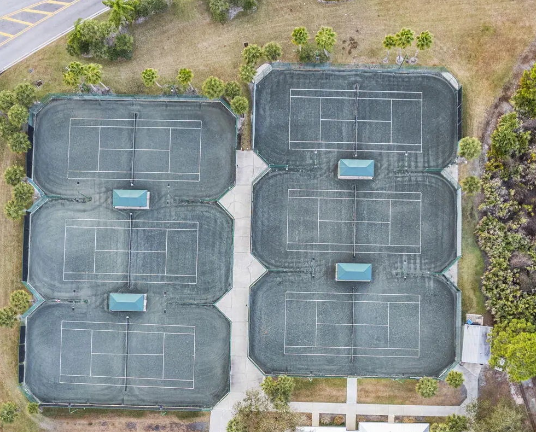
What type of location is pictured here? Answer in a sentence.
What you see here is a sports ground.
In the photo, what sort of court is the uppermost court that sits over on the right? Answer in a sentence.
Specifically, the uppermost court that sits over on the right is a tennis court.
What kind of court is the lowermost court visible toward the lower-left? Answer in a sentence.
What you see as the lowermost court visible toward the lower-left is a tennis court.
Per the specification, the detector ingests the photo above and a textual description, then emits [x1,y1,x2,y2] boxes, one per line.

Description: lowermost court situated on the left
[25,301,231,408]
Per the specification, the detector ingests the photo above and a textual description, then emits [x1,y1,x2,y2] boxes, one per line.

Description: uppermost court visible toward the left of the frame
[34,100,236,200]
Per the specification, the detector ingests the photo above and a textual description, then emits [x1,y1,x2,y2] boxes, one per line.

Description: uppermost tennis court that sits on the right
[254,68,457,172]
